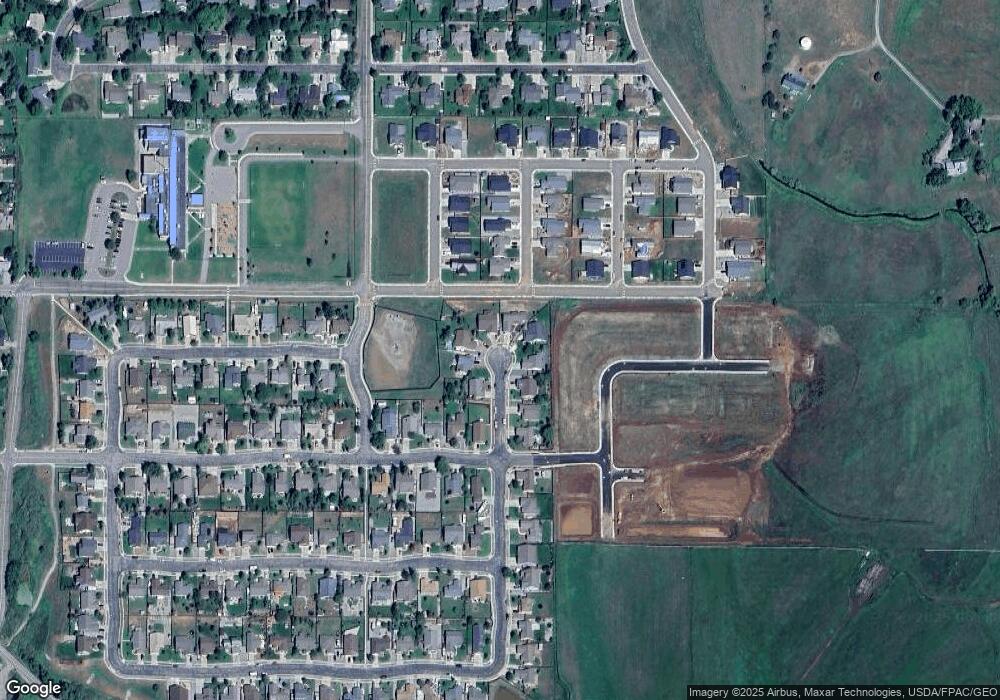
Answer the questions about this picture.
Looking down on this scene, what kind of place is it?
residential area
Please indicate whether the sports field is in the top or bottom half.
top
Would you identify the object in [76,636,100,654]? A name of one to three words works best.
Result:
house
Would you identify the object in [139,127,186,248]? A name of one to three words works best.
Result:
building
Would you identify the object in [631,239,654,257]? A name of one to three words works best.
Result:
house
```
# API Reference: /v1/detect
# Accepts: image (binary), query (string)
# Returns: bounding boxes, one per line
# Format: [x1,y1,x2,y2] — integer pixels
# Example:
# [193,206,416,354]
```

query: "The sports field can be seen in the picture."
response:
[249,162,306,248]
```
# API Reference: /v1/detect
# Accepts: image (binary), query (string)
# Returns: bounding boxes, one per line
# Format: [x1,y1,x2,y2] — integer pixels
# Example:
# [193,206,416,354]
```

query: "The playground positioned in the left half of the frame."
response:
[217,203,238,255]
